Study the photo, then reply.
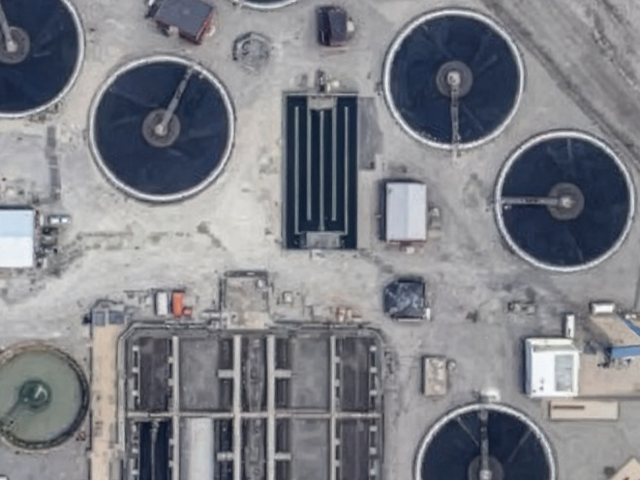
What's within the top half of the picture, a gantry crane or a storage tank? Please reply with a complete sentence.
You can see a storage tank within the top half of the picture.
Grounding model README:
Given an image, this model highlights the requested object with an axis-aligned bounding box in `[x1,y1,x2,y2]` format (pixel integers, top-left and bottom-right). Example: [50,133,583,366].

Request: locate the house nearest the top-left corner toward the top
[149,0,217,40]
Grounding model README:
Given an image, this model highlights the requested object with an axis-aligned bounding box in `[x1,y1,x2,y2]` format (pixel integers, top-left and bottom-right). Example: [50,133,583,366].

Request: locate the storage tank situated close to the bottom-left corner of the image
[0,342,92,452]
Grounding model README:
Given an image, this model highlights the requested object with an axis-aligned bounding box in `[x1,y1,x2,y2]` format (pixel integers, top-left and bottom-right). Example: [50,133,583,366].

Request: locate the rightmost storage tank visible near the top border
[381,7,527,155]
